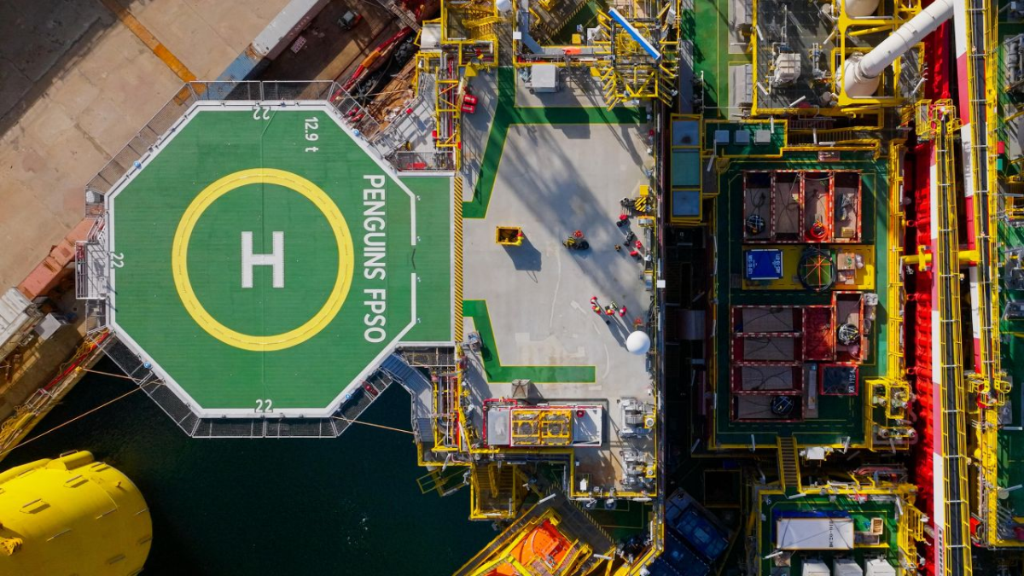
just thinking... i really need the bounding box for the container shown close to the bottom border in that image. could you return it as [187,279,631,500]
[768,511,855,551]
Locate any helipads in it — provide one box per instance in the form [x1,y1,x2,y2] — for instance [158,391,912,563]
[85,81,455,437]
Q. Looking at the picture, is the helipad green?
Yes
